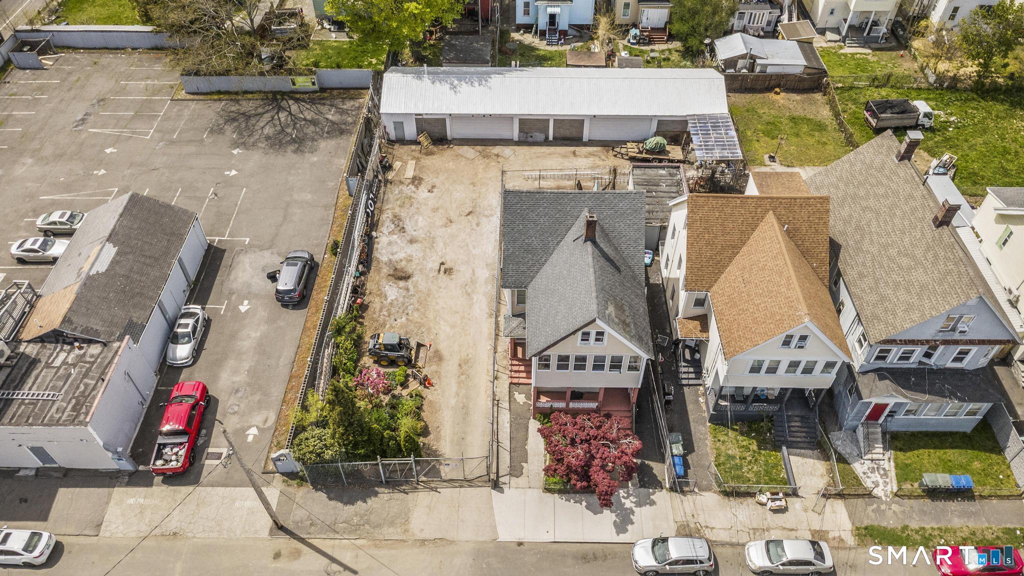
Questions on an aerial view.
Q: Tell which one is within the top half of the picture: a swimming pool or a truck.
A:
truck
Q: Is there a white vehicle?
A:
Yes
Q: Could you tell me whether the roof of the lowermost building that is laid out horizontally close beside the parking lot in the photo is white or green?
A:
white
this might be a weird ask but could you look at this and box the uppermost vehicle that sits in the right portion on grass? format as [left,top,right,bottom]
[857,95,941,135]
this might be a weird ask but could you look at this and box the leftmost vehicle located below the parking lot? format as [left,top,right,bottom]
[0,529,57,571]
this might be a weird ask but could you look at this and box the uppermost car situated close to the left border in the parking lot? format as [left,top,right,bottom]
[31,204,94,233]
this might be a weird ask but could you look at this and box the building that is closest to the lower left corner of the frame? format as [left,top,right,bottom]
[0,191,211,482]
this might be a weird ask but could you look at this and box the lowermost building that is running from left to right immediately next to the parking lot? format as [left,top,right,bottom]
[381,57,728,143]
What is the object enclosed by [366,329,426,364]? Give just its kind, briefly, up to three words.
work vehicle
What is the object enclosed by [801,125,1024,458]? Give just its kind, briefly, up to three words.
house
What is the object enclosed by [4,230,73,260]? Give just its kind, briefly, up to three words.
car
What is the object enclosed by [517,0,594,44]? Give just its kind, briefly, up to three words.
house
